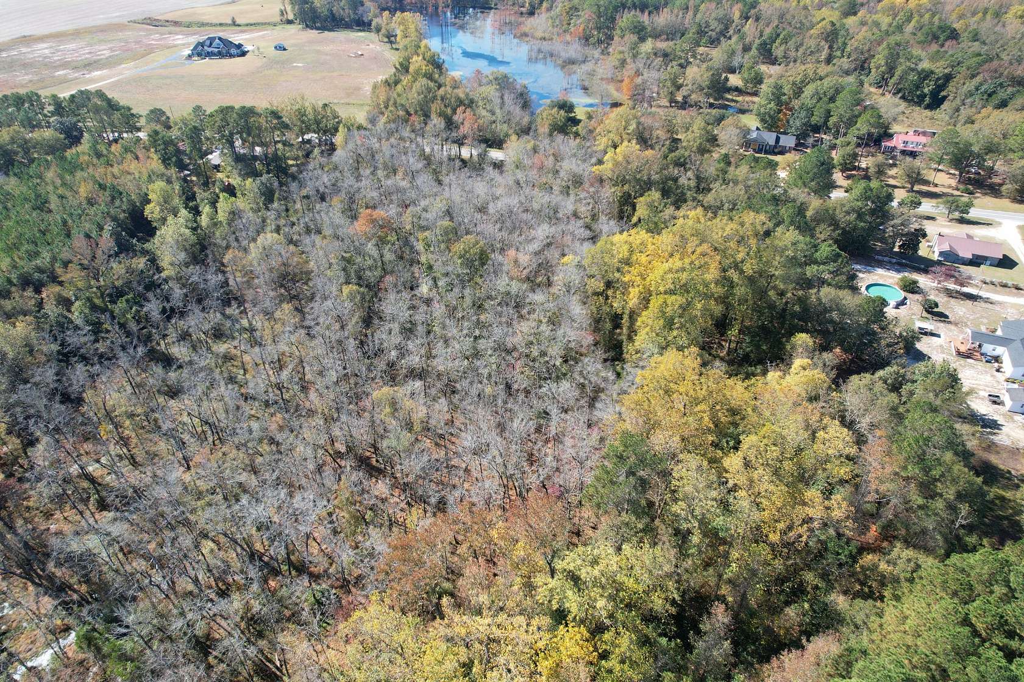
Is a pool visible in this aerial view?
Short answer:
Yes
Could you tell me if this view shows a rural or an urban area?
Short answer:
rural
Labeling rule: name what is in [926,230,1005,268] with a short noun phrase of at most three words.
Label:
house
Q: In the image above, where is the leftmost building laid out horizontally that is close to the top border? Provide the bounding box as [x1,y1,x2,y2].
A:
[187,33,250,58]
